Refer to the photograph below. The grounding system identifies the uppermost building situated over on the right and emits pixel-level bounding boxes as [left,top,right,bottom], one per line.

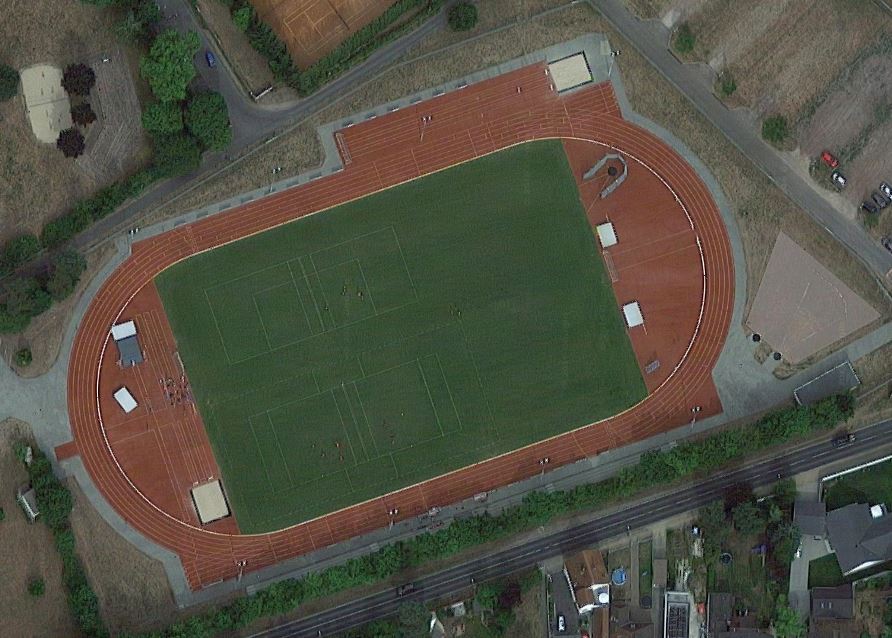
[794,362,860,414]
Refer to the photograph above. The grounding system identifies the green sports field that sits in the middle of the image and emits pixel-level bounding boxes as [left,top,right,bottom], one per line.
[142,139,647,533]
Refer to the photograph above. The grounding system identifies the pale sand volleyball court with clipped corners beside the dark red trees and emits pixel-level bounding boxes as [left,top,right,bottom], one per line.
[21,65,71,143]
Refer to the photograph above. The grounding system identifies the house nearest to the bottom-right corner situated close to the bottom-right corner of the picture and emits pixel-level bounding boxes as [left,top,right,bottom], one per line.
[813,586,853,638]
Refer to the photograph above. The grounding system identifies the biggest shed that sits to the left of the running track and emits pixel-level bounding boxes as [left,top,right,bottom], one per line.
[18,485,38,519]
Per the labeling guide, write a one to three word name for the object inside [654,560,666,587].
shed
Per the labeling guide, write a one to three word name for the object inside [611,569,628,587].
swimming pool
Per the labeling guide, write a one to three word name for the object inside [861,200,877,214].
vehicle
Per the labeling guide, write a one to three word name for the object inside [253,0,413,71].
tennis court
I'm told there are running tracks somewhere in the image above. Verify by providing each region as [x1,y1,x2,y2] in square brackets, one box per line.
[54,60,734,592]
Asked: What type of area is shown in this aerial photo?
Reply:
sports ground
